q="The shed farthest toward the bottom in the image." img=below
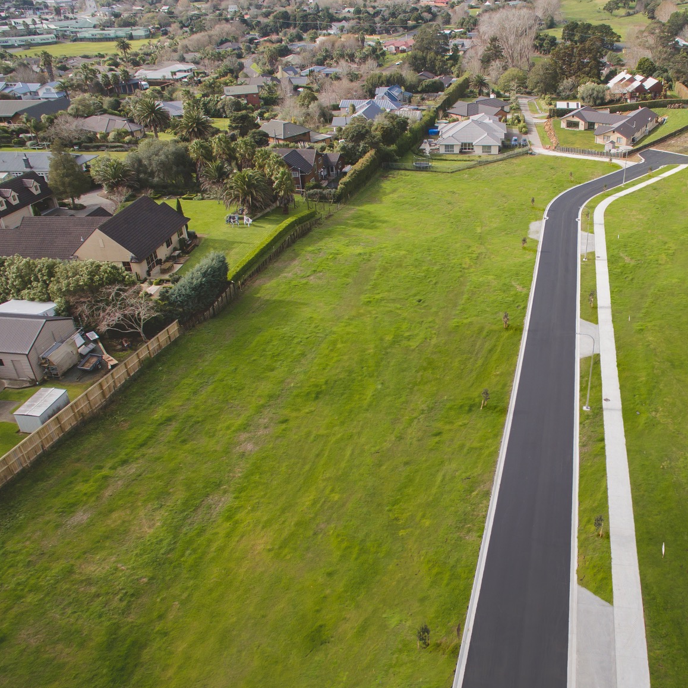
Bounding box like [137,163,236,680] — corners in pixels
[16,387,73,433]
